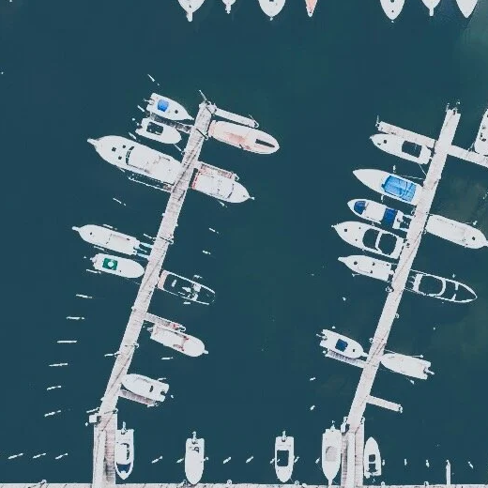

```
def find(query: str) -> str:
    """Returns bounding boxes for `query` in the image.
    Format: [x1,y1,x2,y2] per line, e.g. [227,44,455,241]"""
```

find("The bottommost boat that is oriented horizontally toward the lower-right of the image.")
[380,353,437,382]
